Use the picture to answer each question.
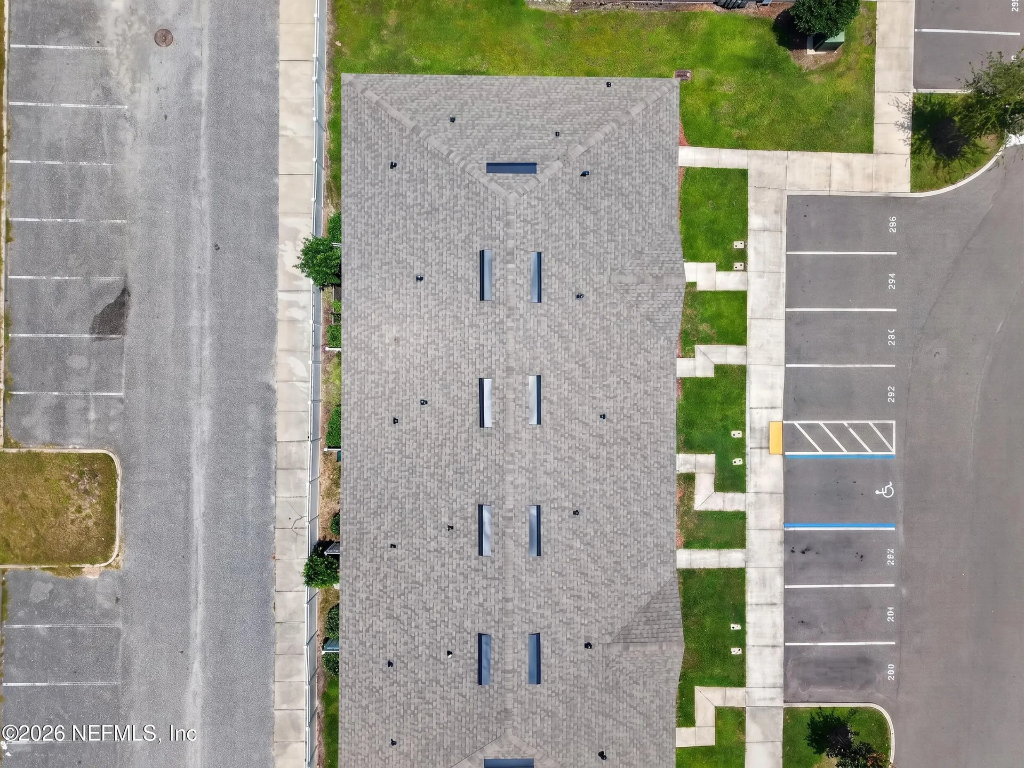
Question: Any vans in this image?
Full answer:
No, I can see no van in this picture.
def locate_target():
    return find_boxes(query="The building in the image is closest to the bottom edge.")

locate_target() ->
[338,73,685,768]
